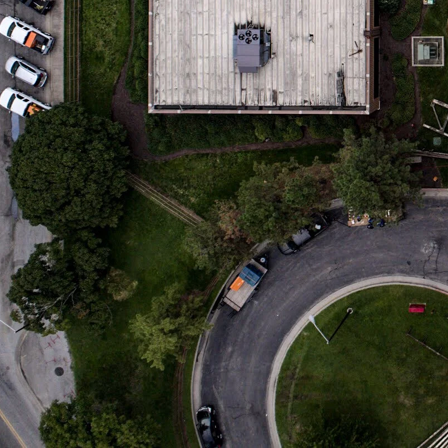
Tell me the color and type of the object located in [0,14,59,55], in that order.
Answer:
white truck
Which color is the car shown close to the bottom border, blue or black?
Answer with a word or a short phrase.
black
